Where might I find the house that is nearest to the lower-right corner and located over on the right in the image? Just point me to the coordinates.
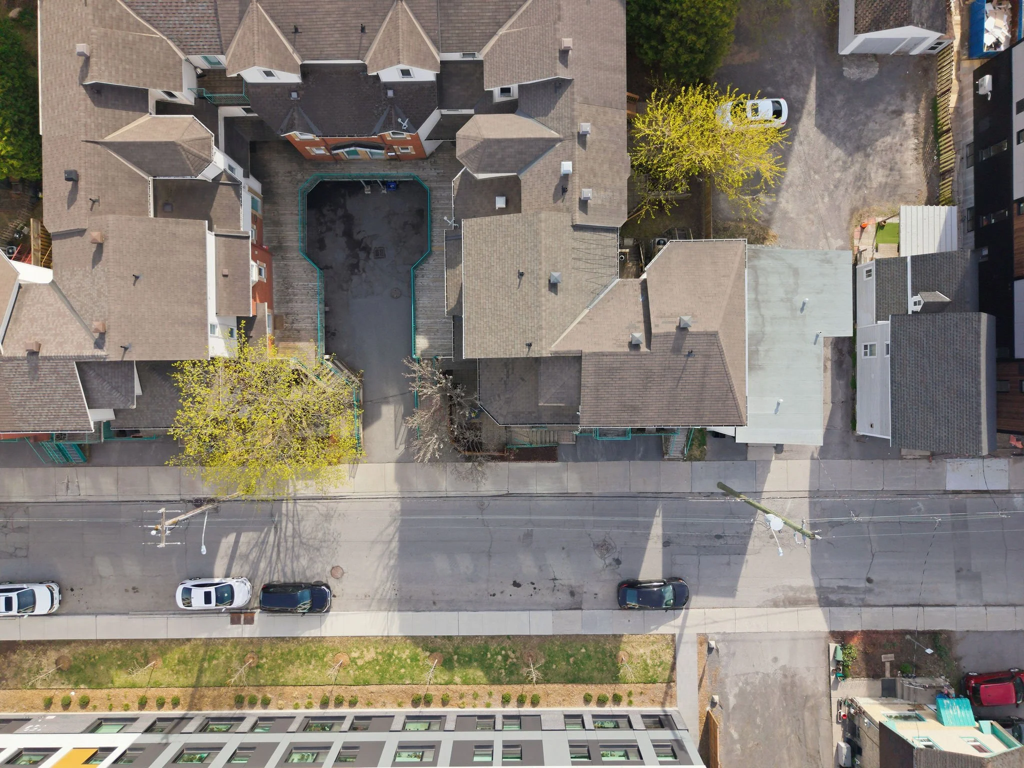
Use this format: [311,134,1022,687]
[856,697,1024,768]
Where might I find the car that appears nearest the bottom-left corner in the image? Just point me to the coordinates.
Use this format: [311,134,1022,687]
[0,580,66,619]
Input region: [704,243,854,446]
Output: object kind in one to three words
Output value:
building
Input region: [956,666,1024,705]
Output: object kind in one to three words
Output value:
car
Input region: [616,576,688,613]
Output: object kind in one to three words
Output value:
car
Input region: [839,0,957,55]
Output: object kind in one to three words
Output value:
building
